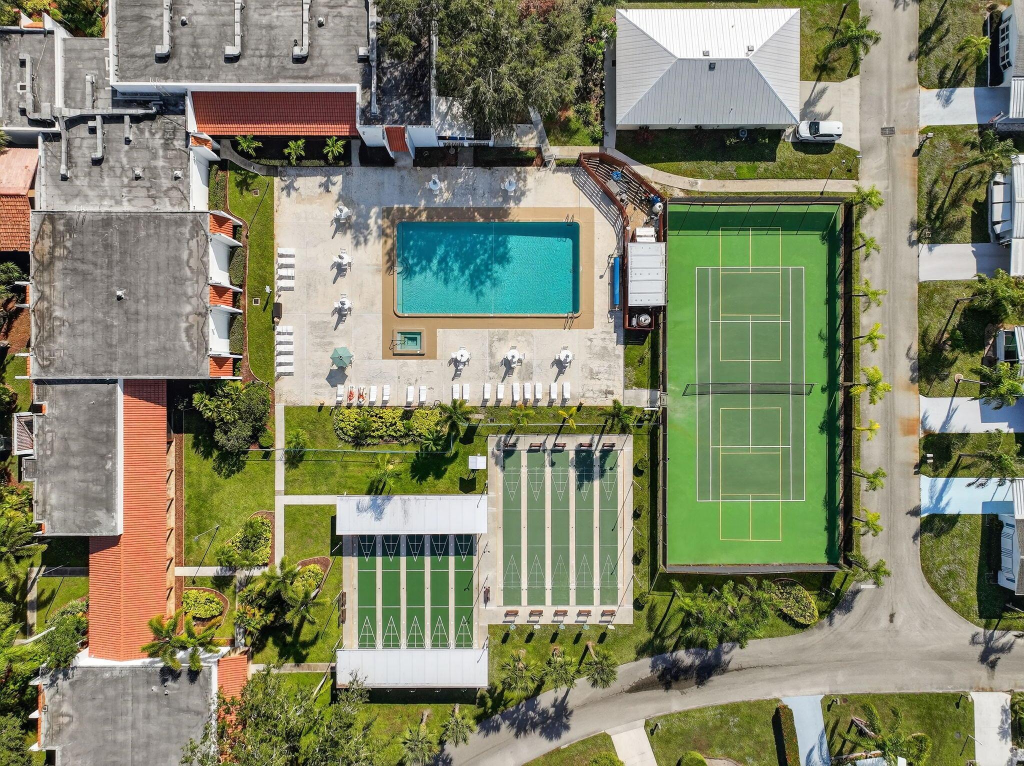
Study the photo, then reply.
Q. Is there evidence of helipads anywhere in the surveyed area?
No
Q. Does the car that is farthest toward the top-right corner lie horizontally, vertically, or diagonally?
horizontally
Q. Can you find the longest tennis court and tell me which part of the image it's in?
right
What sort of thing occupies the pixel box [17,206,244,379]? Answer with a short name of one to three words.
building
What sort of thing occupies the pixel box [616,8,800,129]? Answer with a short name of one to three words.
house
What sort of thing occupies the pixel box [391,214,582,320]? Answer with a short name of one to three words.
swimming pool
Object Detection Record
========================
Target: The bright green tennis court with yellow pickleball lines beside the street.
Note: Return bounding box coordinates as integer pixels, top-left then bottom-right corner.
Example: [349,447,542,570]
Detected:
[666,203,841,565]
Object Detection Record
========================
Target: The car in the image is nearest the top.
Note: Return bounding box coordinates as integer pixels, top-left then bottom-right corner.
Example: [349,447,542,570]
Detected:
[792,119,843,144]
